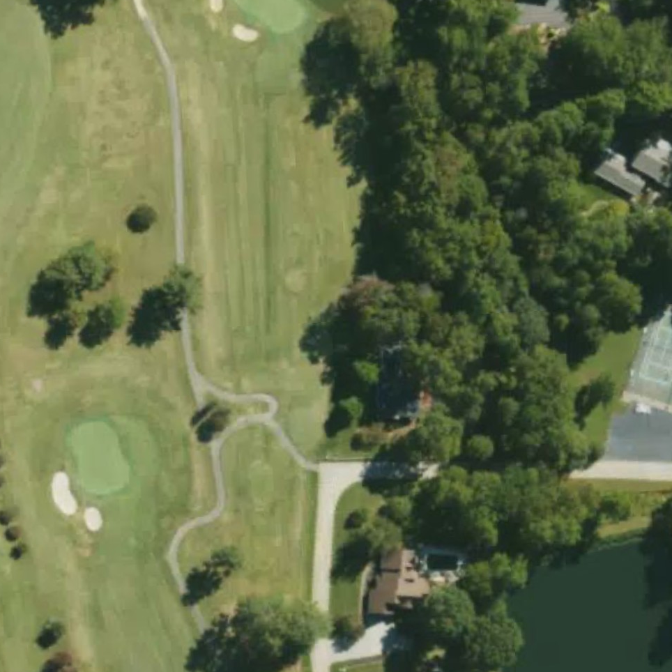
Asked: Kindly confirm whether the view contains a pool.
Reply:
Yes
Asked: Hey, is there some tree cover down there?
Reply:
Yes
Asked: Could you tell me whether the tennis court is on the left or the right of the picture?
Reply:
right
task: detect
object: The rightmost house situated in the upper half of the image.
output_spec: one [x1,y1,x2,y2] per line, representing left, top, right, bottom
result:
[630,136,672,191]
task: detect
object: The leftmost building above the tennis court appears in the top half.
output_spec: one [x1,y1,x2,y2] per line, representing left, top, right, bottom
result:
[595,155,646,199]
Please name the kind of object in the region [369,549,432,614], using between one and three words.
house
